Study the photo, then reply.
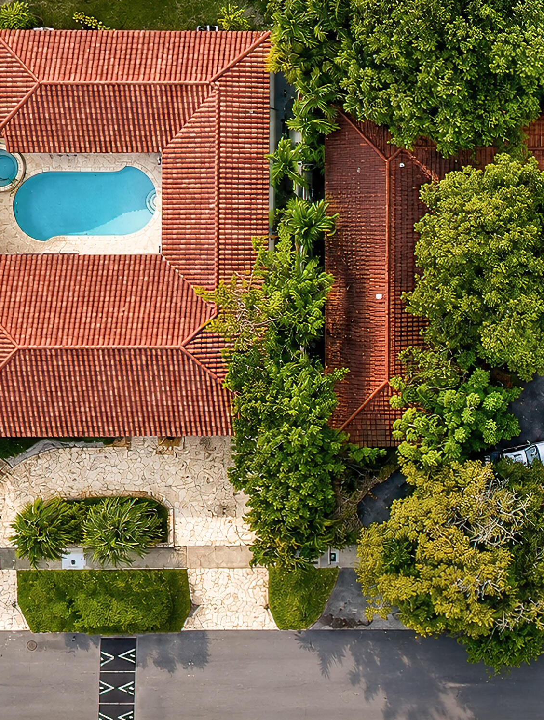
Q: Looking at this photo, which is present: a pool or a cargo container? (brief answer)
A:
pool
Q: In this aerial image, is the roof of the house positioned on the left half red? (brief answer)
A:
Yes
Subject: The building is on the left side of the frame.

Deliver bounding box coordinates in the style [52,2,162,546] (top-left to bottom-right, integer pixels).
[0,28,276,436]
